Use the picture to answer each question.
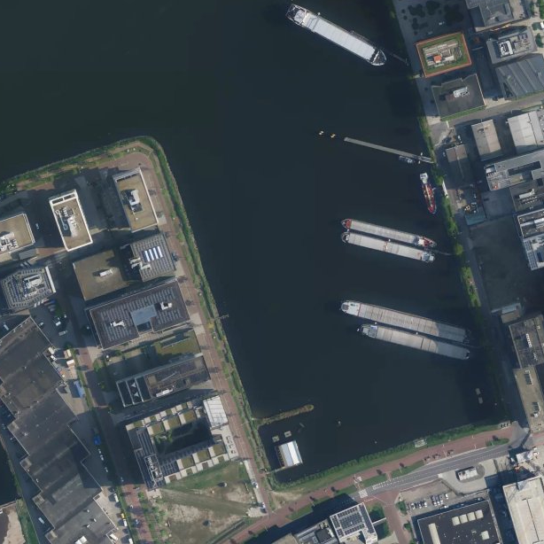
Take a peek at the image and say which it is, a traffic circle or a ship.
ship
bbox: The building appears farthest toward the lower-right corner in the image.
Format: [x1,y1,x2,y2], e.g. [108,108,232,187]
[503,476,544,544]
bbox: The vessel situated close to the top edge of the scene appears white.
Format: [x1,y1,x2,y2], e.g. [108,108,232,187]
[288,4,387,63]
